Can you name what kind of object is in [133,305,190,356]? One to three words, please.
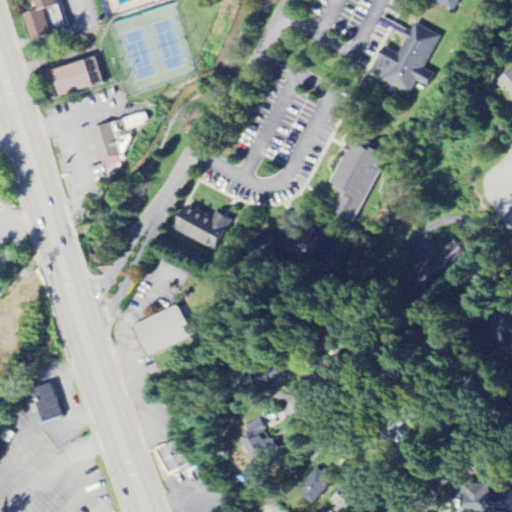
building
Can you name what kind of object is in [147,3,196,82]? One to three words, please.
tennis court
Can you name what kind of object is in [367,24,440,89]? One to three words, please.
building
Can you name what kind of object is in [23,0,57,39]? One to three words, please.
house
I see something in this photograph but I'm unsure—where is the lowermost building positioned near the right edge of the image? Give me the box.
[461,482,490,512]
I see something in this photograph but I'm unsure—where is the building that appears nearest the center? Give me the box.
[174,206,233,250]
